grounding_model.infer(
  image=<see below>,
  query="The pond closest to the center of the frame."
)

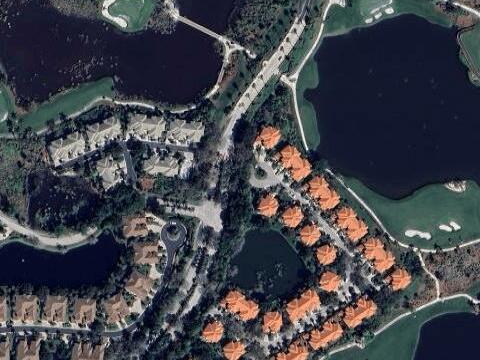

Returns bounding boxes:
[229,228,308,299]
